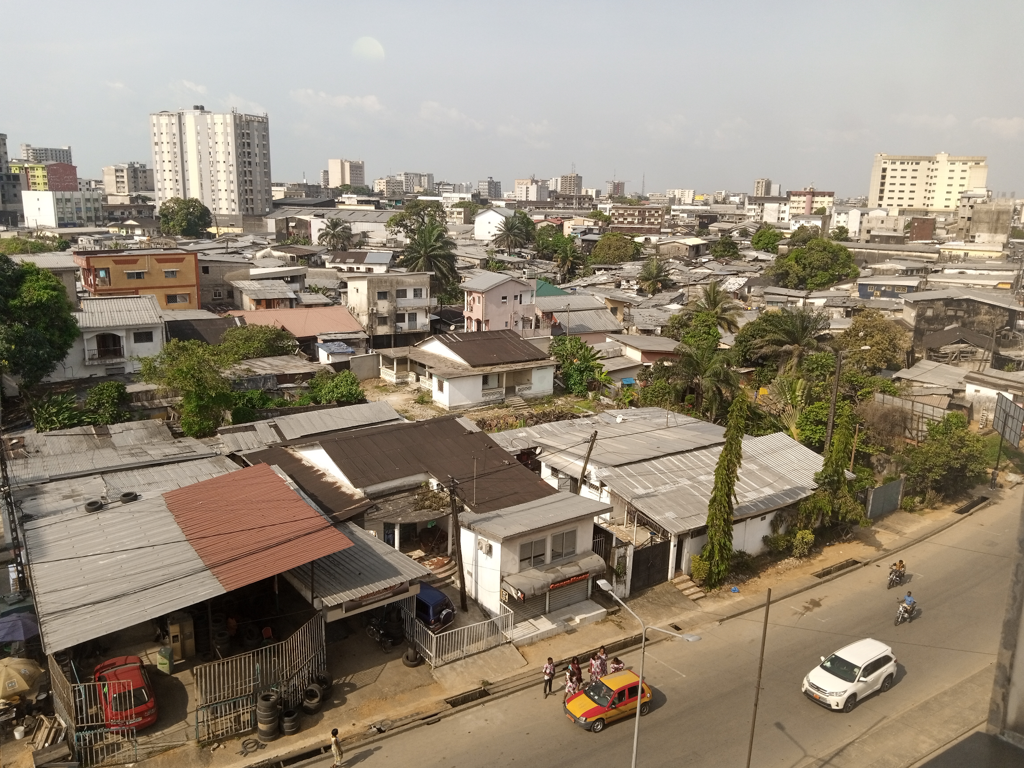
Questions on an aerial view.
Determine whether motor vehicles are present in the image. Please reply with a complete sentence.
Yes, the frame does contain a motor vehicle.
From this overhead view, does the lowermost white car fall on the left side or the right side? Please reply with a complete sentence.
The lowermost white car appears in the right half of the scene.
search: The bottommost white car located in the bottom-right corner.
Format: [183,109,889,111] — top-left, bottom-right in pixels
[798,637,905,714]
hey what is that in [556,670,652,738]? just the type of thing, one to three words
car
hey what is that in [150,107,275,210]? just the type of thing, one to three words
building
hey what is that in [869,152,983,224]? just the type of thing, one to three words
building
